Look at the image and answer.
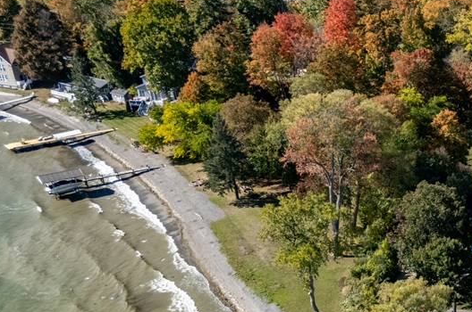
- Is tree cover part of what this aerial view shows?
Yes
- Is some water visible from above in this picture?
Yes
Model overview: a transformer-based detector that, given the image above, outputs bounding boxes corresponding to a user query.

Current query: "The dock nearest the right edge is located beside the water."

[84,158,165,186]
